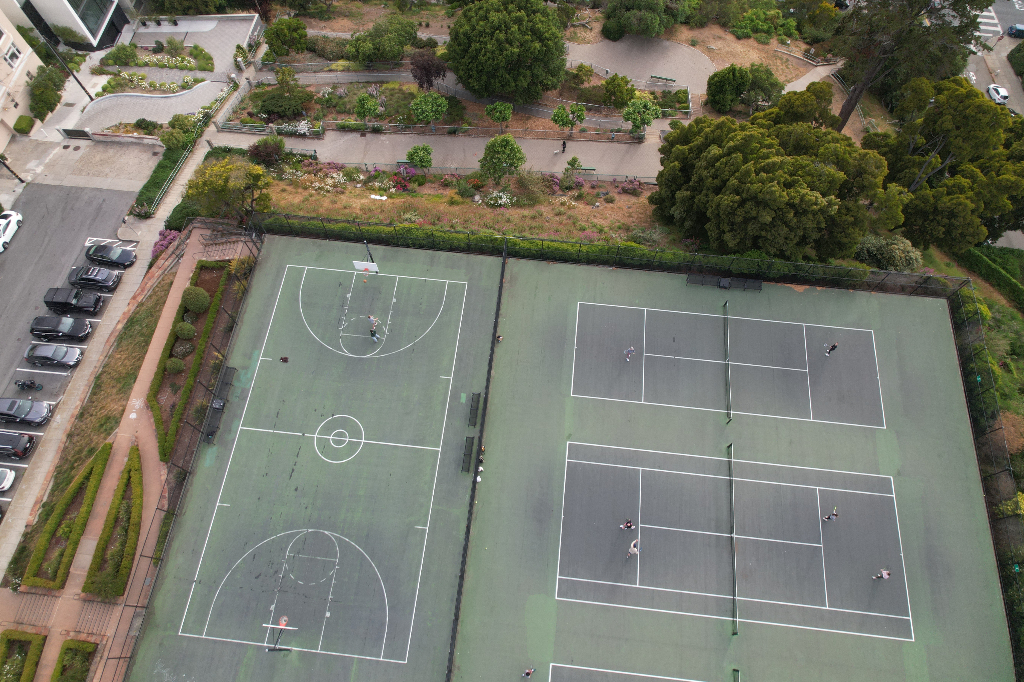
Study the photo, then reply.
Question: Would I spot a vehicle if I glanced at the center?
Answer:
No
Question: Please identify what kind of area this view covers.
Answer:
sports ground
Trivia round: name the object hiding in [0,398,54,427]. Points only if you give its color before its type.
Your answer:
gray car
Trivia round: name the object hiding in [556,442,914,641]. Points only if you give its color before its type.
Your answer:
gray tennis court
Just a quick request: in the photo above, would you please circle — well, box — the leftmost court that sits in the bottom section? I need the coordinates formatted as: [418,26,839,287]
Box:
[127,234,503,682]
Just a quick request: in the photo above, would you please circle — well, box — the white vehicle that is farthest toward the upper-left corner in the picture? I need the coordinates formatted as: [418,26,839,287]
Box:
[0,208,26,254]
